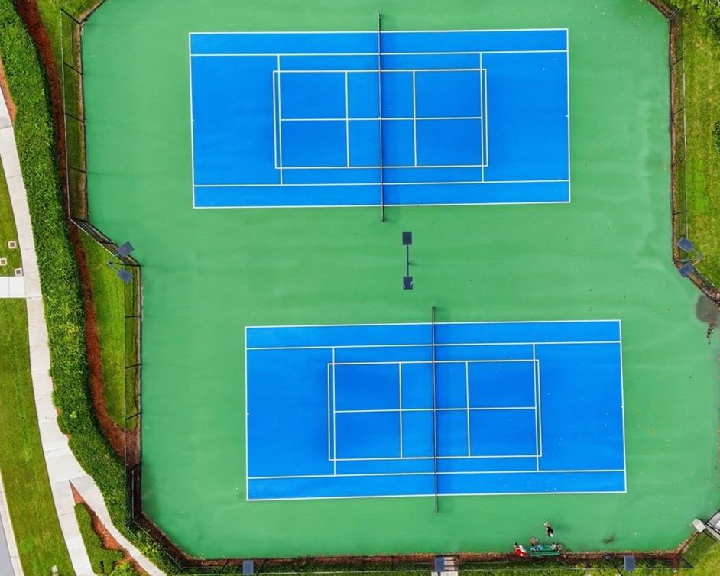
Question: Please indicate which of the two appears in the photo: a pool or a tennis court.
tennis court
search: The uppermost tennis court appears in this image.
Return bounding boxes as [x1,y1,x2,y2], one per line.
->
[189,26,570,208]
